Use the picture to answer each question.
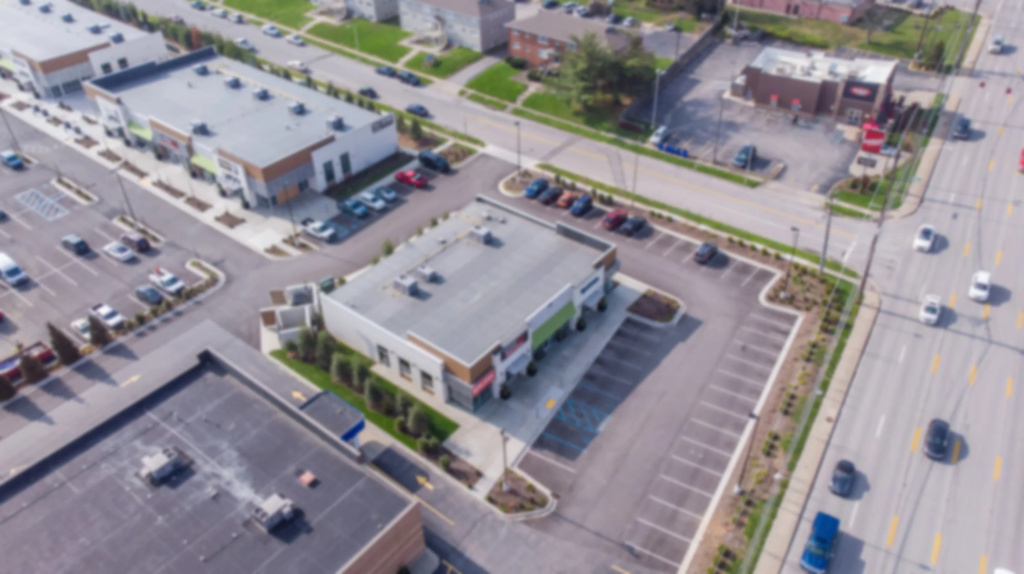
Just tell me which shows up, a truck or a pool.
truck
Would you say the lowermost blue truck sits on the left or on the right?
right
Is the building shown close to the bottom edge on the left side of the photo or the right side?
left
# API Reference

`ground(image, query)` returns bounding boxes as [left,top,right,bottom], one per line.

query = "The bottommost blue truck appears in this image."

[799,515,839,574]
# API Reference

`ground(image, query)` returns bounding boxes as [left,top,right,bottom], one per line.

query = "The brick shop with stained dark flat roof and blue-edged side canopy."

[0,345,427,574]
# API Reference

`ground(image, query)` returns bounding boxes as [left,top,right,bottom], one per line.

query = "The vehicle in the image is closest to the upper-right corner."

[989,36,1004,53]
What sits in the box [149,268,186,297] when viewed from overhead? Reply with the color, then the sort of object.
white truck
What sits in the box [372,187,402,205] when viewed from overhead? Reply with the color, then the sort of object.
blue car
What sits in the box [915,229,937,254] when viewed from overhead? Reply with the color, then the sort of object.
white car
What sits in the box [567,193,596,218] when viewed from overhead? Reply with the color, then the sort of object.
blue car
